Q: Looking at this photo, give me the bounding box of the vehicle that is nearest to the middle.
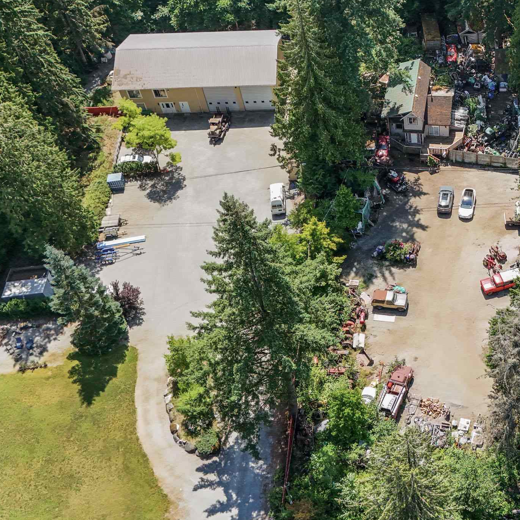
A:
[267,181,287,216]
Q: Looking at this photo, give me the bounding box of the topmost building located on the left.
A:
[114,29,292,118]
